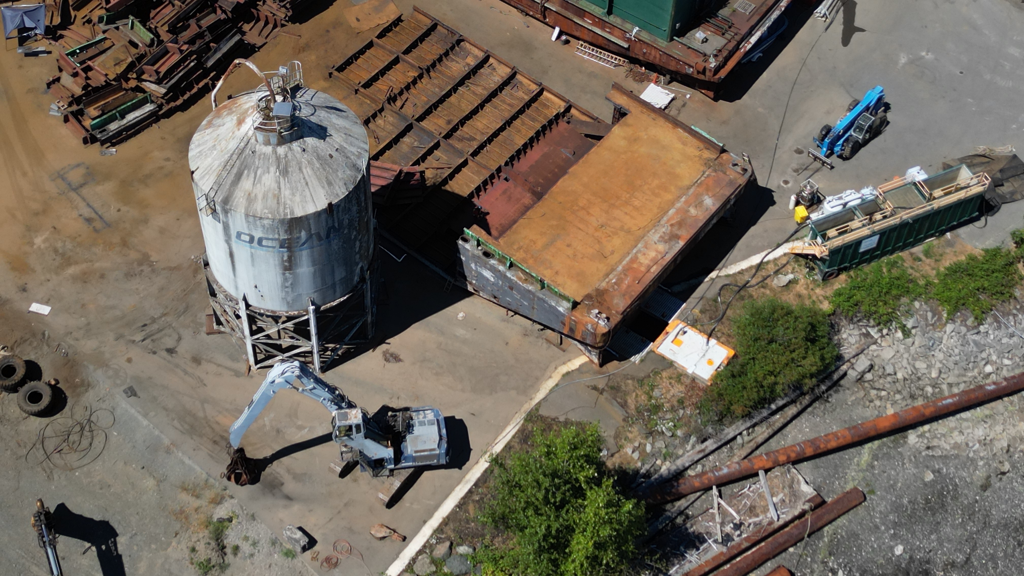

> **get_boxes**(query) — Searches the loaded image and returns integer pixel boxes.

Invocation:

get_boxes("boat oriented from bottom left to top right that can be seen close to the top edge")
[741,11,785,63]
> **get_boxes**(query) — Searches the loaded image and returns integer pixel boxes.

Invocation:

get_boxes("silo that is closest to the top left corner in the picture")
[183,58,382,372]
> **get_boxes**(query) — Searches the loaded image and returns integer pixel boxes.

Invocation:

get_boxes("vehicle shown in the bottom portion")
[220,353,460,510]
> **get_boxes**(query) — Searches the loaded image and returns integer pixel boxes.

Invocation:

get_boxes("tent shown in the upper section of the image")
[2,6,51,60]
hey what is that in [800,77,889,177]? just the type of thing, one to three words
work vehicle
